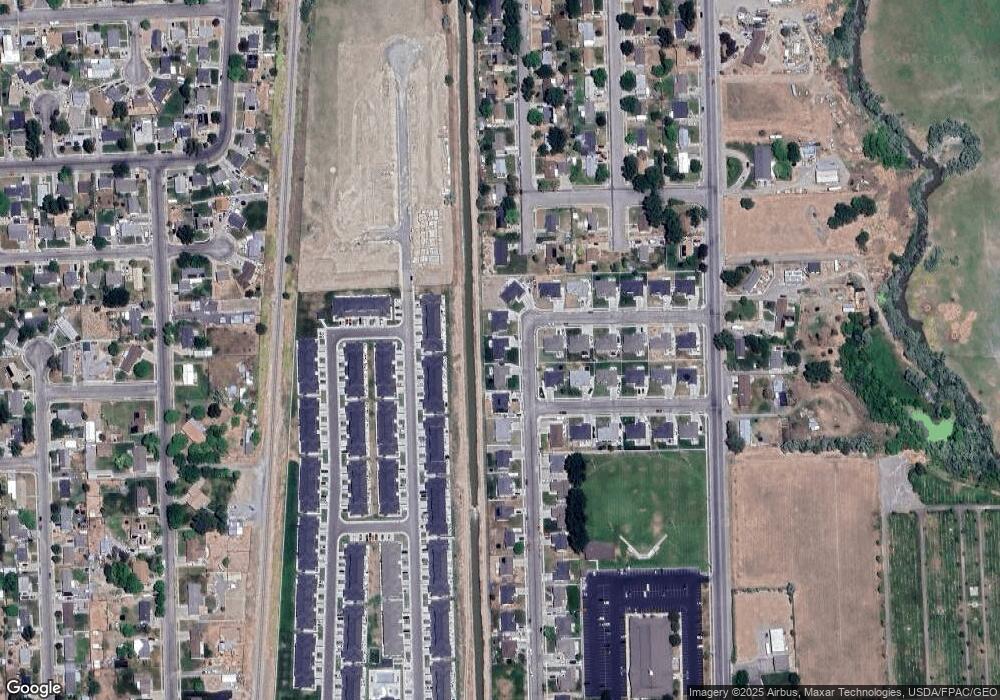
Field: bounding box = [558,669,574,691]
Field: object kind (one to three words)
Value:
house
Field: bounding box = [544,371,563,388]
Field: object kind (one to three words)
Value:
house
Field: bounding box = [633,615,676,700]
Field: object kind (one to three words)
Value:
building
